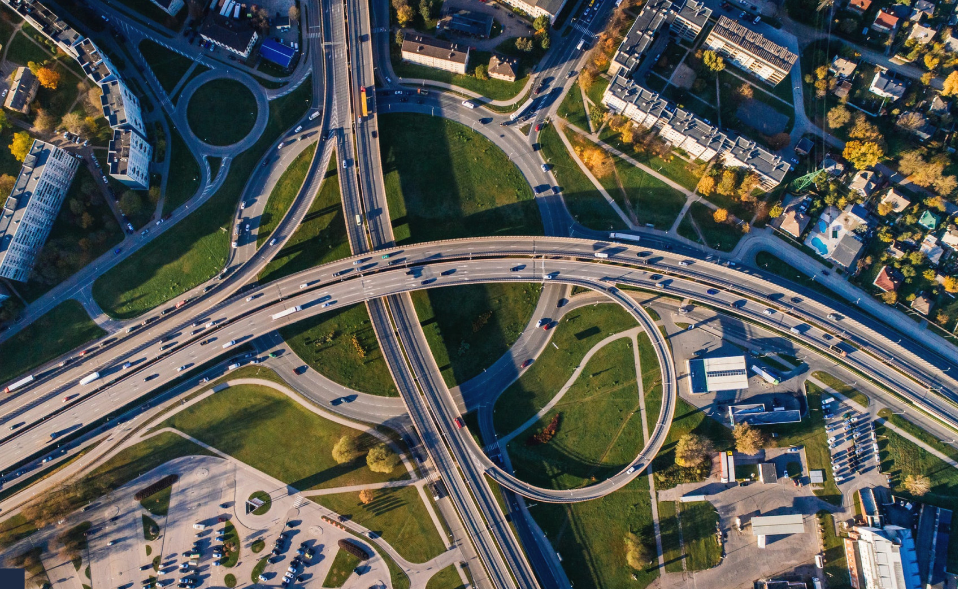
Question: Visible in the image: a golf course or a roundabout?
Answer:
roundabout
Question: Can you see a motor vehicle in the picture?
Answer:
Yes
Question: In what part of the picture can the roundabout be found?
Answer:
top left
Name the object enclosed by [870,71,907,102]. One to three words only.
house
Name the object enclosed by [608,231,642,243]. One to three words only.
vehicle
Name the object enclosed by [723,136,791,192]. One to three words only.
building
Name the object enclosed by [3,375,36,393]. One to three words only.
vehicle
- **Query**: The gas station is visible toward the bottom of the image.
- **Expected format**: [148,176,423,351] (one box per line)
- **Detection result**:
[703,356,748,392]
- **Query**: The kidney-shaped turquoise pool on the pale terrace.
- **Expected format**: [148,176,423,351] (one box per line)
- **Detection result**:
[810,237,829,255]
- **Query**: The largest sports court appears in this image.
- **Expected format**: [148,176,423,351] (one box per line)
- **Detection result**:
[737,98,789,135]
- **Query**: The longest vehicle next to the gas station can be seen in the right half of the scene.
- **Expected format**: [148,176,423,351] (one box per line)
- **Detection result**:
[748,362,780,387]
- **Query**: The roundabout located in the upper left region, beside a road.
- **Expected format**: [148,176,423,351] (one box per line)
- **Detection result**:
[175,66,269,158]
